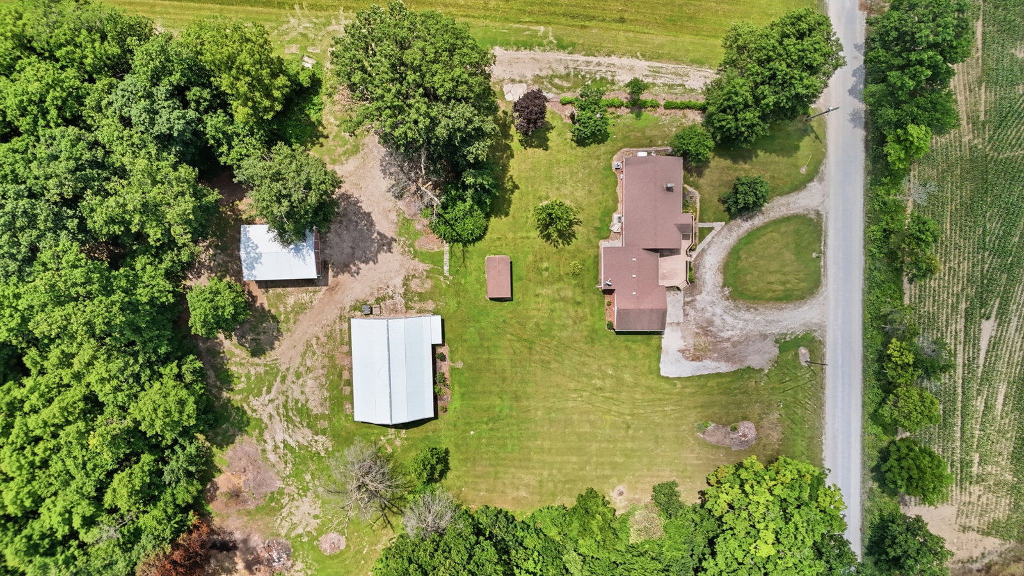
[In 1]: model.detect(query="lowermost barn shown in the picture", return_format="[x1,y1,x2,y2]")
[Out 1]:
[350,314,443,423]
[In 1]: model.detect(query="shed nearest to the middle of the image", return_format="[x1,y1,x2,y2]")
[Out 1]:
[485,255,512,299]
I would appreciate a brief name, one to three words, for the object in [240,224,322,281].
shed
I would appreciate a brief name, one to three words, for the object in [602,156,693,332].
house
